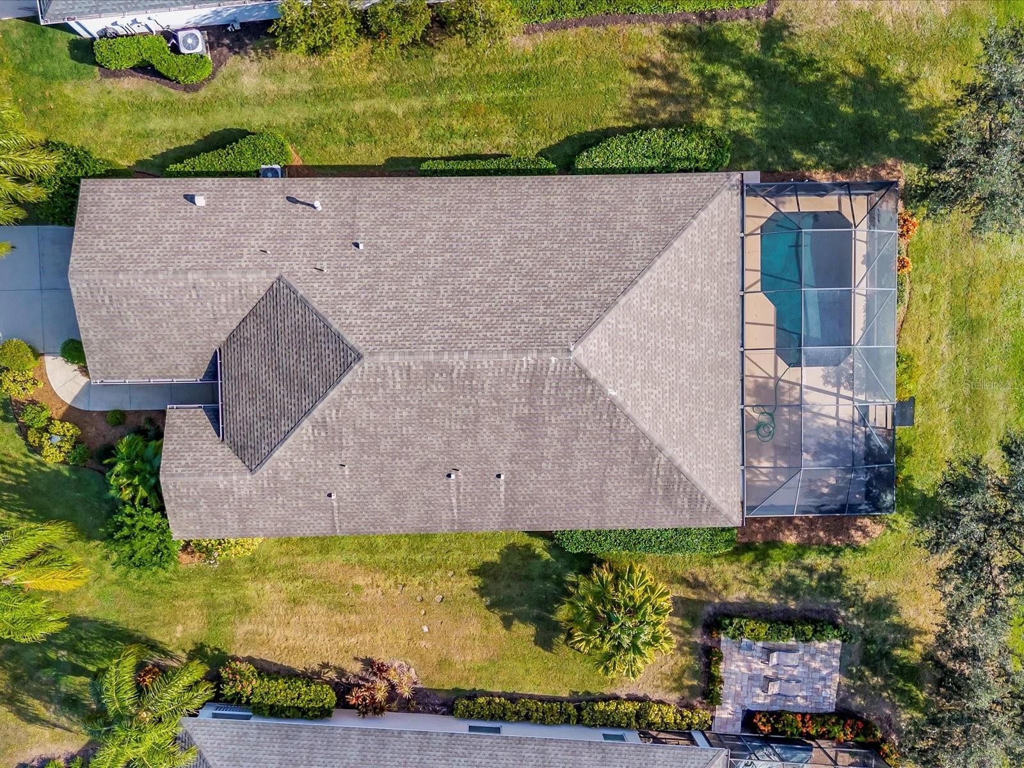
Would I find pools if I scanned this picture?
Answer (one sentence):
Yes, a pool appears in the view.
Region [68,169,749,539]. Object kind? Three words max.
house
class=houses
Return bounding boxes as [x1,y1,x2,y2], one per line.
[68,169,749,539]
[30,0,461,38]
[176,706,733,768]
